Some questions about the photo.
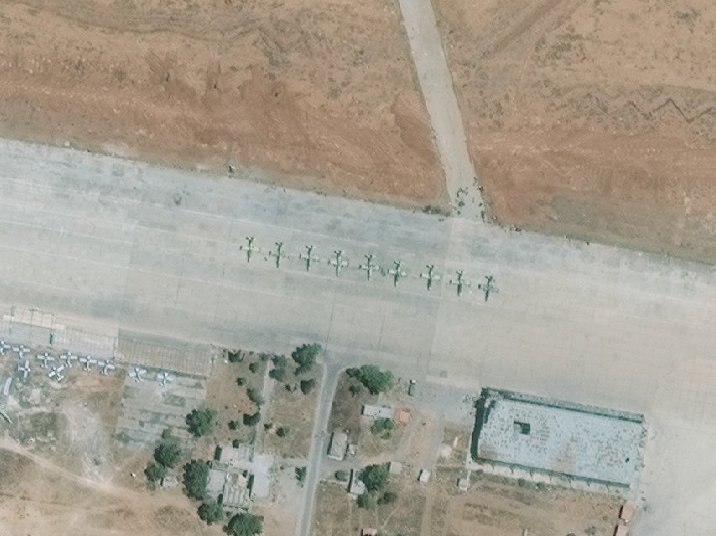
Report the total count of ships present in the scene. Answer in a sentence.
The picture shows no ships.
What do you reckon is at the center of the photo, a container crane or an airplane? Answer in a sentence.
The feature located at the center of the photo is an airplane.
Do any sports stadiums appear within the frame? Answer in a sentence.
No, no sports stadium is visible in the scene.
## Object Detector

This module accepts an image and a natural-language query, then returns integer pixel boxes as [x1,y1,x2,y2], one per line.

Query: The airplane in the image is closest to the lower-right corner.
[478,275,498,299]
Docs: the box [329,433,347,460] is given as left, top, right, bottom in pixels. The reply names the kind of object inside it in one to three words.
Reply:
house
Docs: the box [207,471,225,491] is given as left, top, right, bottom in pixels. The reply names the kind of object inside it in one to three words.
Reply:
house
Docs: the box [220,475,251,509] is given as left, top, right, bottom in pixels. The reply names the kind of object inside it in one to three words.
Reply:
building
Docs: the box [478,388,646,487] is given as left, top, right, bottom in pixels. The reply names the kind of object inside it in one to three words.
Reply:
hangar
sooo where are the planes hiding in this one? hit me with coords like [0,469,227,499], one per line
[48,366,64,381]
[359,254,379,277]
[37,351,54,366]
[98,358,115,373]
[13,342,29,358]
[17,361,33,378]
[388,259,408,284]
[328,249,348,273]
[478,275,498,299]
[268,241,288,265]
[420,264,441,288]
[156,370,173,385]
[450,270,470,294]
[129,367,145,382]
[0,339,10,354]
[80,354,96,369]
[299,245,319,269]
[60,350,78,365]
[240,236,259,260]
